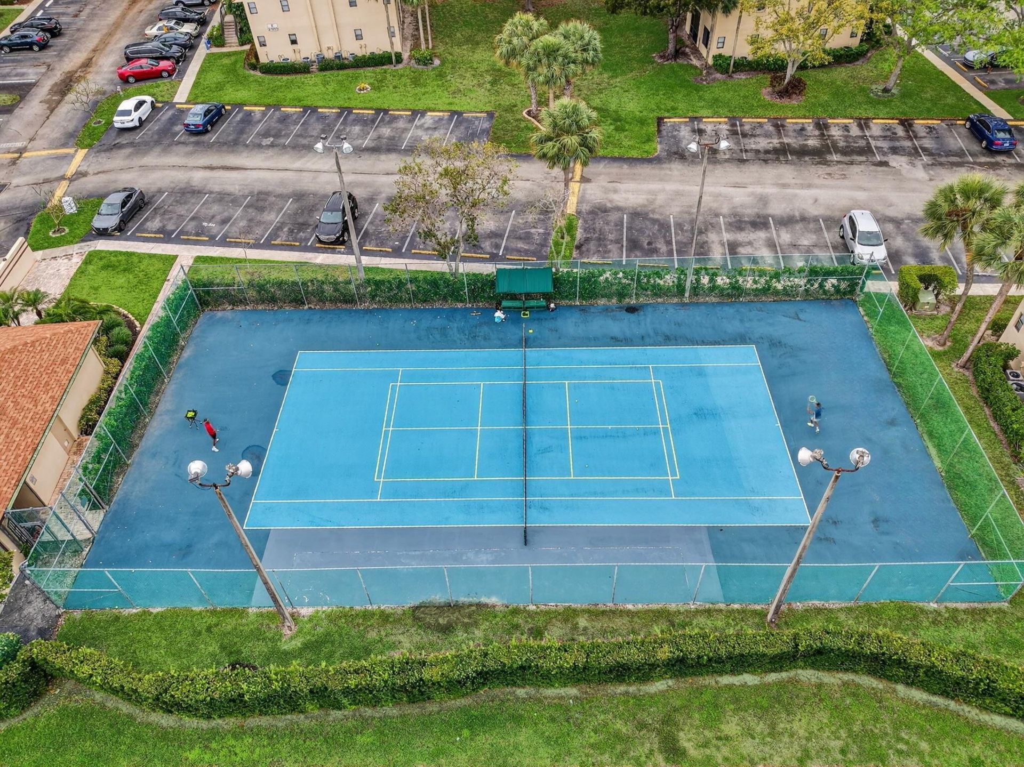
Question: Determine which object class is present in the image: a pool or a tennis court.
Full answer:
There is a tennis court in the scene.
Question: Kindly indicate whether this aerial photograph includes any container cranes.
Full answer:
No, no container crane is visible in the scene.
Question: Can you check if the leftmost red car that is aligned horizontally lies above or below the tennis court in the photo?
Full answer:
From this view, the leftmost red car that is aligned horizontally can be seen above the tennis court.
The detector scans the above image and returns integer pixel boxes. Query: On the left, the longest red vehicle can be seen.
[114,56,175,82]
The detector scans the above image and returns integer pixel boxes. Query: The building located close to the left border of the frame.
[0,321,105,543]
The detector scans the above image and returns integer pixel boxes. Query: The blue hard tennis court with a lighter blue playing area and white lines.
[65,300,1000,606]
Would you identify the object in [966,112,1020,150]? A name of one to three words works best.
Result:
car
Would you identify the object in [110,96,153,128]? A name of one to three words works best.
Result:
car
